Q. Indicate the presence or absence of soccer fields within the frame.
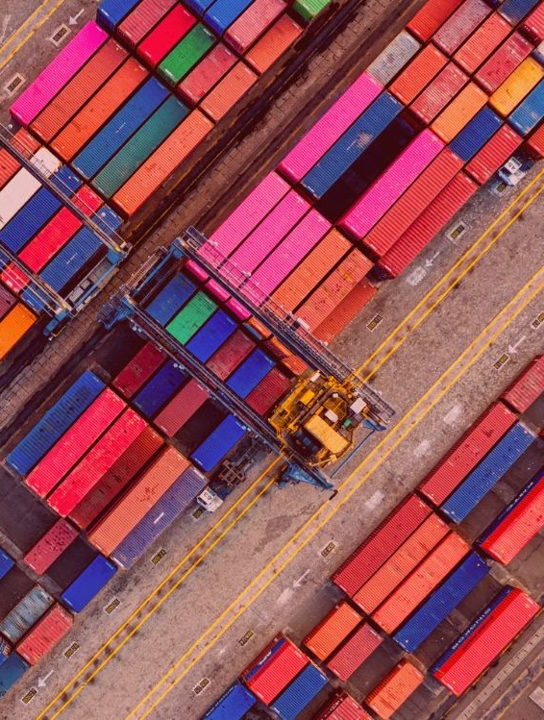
No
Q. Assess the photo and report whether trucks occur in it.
Yes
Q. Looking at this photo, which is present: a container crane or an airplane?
container crane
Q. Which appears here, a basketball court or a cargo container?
cargo container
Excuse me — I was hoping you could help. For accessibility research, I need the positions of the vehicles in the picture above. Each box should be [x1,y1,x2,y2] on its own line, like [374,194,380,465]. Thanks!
[489,144,535,192]
[193,431,272,514]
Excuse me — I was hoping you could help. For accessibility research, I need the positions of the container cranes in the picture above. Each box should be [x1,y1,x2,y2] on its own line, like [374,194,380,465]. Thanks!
[0,114,136,342]
[94,212,402,501]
